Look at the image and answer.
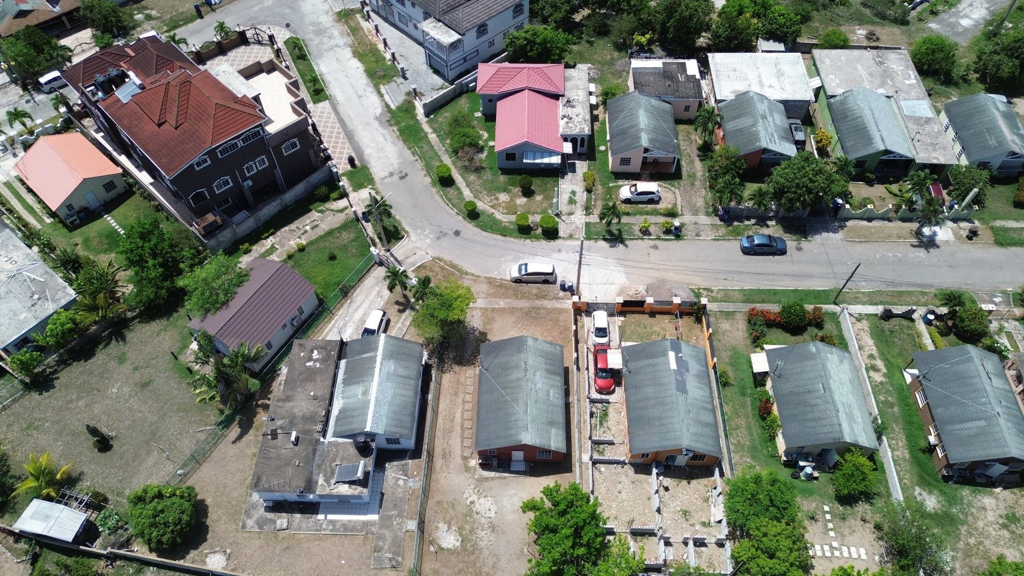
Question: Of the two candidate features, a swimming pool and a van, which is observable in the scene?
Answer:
van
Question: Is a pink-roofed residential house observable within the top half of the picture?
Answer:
Yes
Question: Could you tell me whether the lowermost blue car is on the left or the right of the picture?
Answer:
right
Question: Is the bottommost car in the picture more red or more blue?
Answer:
red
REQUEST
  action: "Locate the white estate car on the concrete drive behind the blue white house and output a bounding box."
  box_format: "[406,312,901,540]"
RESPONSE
[357,304,390,339]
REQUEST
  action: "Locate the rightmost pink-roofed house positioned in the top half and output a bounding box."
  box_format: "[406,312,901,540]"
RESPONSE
[477,63,596,169]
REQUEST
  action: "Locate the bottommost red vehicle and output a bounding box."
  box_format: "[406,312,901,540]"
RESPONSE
[594,351,618,398]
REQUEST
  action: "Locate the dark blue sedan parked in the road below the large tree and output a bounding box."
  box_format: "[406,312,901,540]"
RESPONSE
[741,236,790,258]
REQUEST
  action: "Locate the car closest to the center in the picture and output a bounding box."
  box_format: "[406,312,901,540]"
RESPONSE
[509,264,557,286]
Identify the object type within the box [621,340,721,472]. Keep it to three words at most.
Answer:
house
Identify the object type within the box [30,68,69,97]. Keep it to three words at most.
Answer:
van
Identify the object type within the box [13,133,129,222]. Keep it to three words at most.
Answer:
house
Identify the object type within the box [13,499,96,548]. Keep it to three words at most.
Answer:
shed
